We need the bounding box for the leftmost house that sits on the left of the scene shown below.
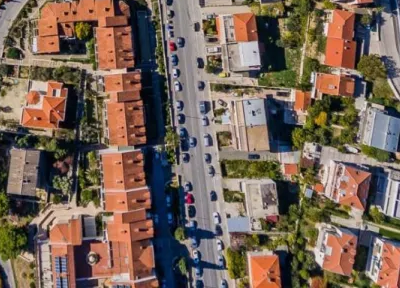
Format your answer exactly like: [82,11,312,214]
[6,148,42,197]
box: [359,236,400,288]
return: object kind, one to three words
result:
house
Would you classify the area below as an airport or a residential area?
residential area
